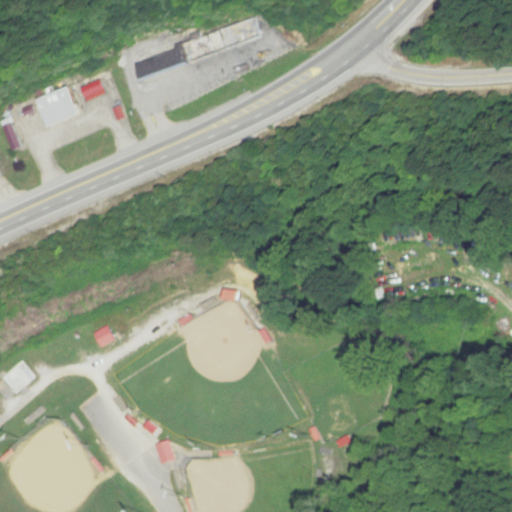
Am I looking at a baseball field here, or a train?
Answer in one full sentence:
There is a baseball field in the scene.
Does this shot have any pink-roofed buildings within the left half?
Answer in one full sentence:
Yes, I can see a pink-roofed building within the left half.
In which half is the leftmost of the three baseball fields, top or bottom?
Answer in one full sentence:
The leftmost of the three baseball fields is in the bottom half of the image.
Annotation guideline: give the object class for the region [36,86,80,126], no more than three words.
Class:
building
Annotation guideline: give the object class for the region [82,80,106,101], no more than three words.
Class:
barn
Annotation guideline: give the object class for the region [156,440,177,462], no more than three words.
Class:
building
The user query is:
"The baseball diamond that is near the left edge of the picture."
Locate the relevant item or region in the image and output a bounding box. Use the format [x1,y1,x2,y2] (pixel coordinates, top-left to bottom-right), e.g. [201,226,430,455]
[0,418,150,512]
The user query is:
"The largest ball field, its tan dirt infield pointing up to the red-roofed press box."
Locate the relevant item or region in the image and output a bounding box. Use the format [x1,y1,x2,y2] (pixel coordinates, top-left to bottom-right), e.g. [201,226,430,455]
[116,300,310,445]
